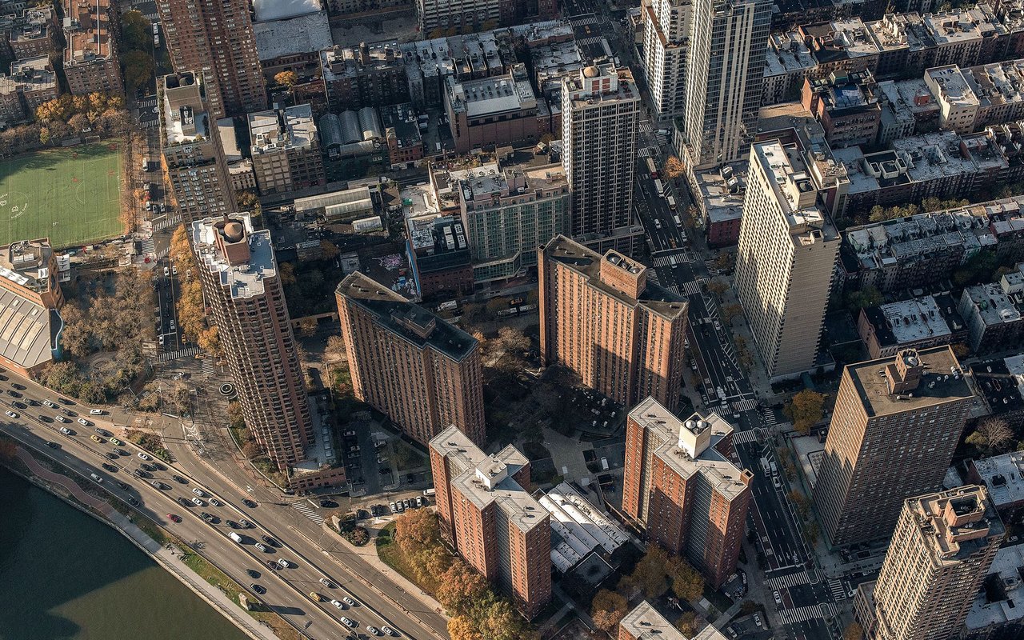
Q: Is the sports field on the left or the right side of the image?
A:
left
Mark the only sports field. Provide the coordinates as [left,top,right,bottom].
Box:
[0,142,123,246]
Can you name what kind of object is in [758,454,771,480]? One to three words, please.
vehicle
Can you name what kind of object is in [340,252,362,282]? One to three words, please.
shed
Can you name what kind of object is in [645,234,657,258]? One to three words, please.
vehicle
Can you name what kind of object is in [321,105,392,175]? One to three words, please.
building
